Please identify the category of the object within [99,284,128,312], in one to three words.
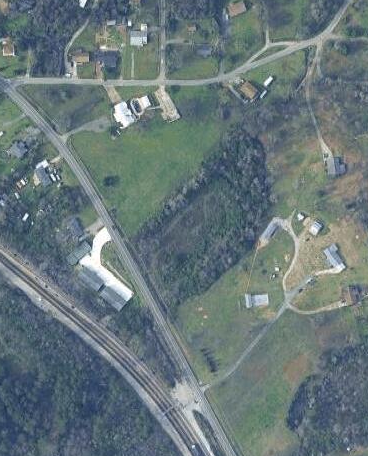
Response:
building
